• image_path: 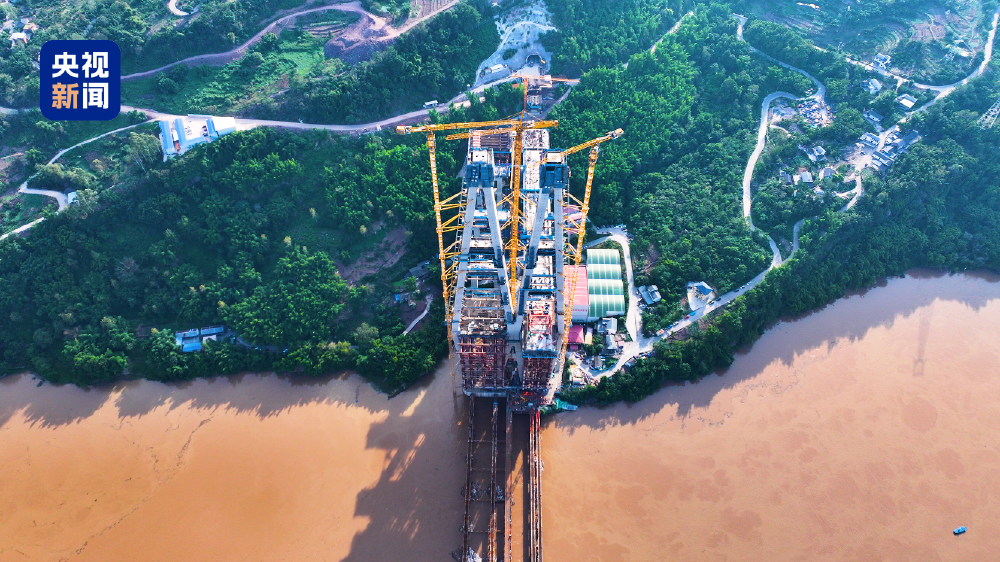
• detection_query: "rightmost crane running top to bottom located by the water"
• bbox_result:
[524,127,627,392]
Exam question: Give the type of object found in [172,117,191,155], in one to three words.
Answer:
building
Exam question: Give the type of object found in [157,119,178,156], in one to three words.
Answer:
building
